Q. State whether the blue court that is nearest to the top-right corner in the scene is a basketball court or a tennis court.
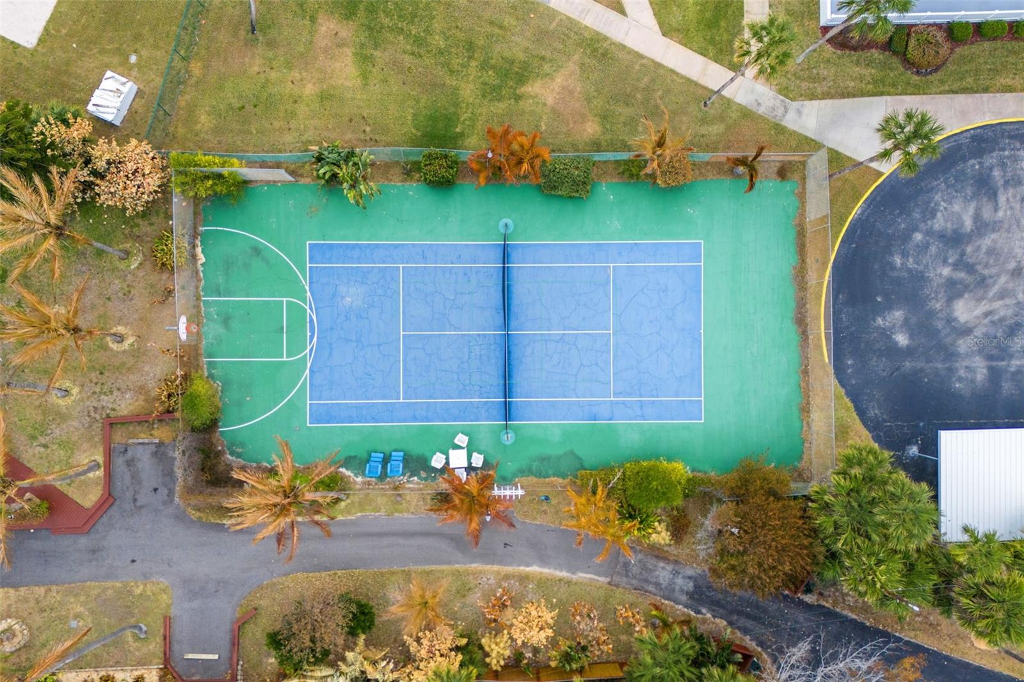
tennis court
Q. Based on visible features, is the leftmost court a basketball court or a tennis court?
basketball court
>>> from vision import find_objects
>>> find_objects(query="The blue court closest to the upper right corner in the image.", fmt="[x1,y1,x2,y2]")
[307,179,806,484]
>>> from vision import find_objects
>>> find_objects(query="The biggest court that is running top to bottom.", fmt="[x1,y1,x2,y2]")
[200,183,316,465]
